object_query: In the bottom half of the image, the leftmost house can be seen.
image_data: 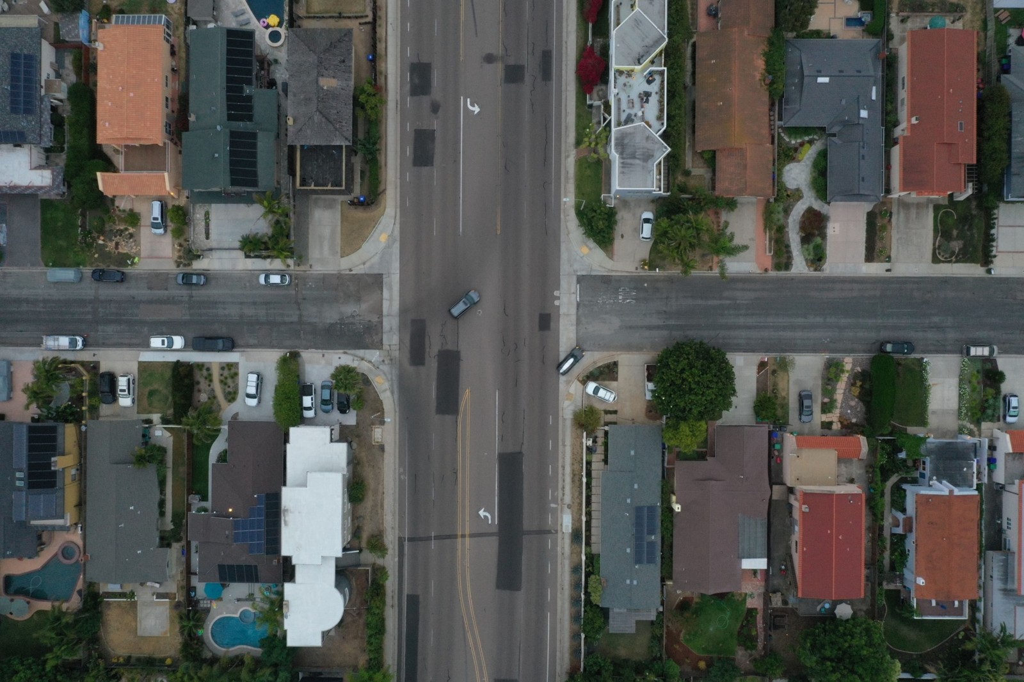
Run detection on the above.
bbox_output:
[0,422,86,560]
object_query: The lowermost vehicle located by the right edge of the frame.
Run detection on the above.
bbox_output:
[1003,393,1020,423]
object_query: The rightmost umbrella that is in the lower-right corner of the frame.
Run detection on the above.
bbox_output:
[832,601,851,619]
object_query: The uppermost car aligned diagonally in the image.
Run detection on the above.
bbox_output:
[448,290,480,318]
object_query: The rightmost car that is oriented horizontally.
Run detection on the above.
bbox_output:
[961,344,997,358]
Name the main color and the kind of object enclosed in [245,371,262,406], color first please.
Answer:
white car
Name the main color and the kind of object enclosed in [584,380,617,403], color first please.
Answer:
white car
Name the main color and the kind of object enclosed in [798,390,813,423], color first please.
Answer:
gray car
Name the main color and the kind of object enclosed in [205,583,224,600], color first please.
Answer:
blue umbrella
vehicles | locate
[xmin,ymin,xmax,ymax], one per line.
[555,346,584,375]
[193,336,235,352]
[640,211,653,241]
[584,380,617,403]
[1003,393,1020,423]
[151,335,186,349]
[92,268,127,283]
[448,290,480,318]
[119,374,136,405]
[245,371,262,406]
[177,272,208,286]
[260,272,291,286]
[336,390,351,416]
[0,204,10,246]
[99,371,117,404]
[798,390,813,423]
[319,380,333,412]
[961,344,997,358]
[48,269,83,282]
[41,335,87,351]
[302,382,316,418]
[150,201,167,234]
[879,341,913,355]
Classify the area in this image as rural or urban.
urban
